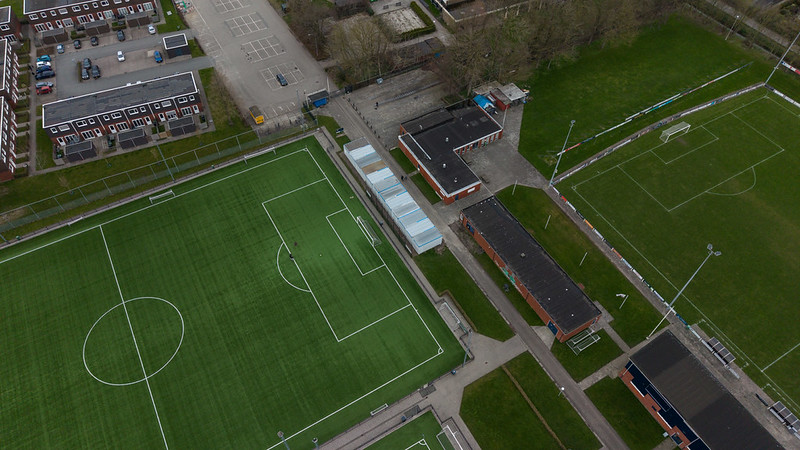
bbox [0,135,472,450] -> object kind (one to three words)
soccer field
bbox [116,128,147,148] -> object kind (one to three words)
shed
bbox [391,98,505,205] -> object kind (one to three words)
building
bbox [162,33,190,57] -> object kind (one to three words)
building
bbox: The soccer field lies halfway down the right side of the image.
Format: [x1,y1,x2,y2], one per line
[552,84,800,412]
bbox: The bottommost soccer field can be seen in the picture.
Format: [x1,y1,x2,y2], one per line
[364,409,455,450]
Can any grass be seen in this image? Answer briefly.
Yes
